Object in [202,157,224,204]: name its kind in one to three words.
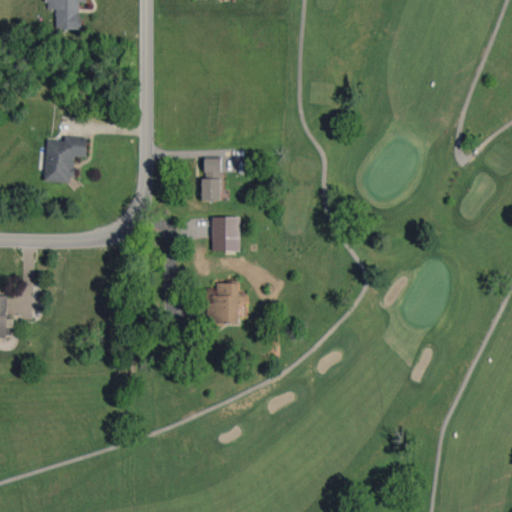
house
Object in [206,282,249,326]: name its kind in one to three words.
house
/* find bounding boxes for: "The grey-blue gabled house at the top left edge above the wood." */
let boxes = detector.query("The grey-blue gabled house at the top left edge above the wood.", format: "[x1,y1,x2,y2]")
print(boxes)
[44,0,85,33]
